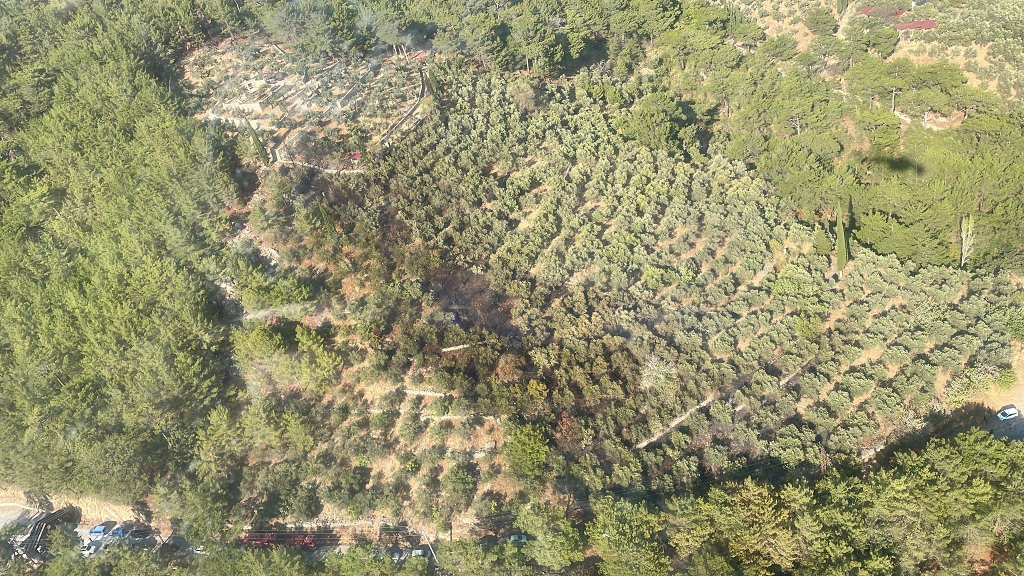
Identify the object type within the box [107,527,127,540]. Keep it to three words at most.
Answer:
vehicle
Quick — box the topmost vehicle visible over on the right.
[995,407,1021,422]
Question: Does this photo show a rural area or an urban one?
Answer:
rural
